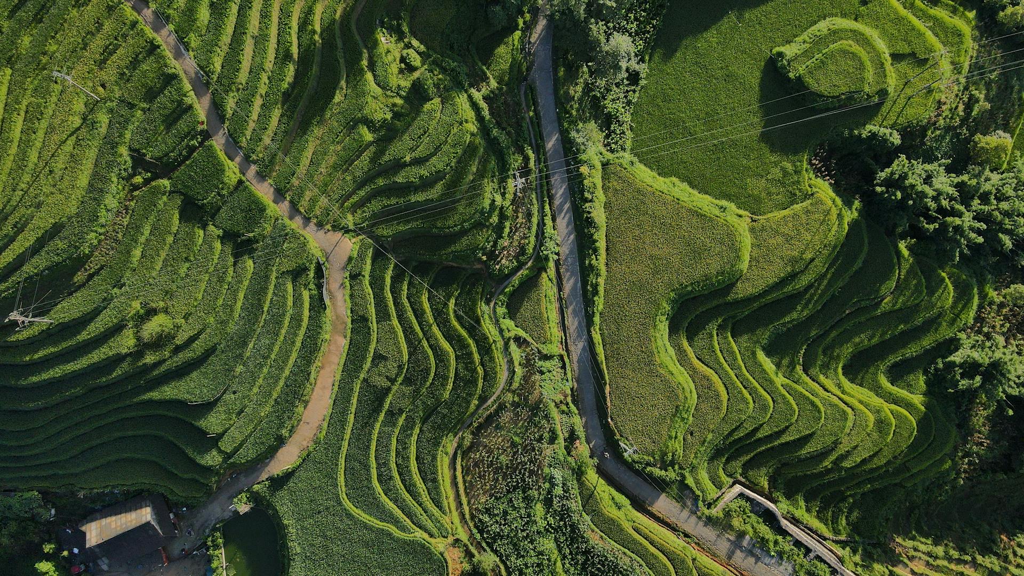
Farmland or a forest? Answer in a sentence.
The area seen from above is farmland.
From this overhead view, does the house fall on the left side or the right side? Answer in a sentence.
The house sits on the left side.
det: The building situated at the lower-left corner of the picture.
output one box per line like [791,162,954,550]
[79,491,188,548]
